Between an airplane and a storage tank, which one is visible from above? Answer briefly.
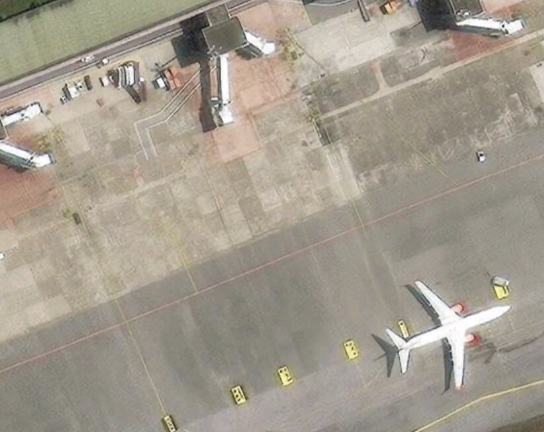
airplane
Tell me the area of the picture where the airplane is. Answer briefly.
bottom right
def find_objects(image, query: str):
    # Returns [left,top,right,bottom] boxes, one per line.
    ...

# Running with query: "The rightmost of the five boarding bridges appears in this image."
[454,18,526,36]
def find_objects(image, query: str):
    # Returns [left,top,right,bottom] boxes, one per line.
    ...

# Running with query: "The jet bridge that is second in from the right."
[243,29,279,56]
